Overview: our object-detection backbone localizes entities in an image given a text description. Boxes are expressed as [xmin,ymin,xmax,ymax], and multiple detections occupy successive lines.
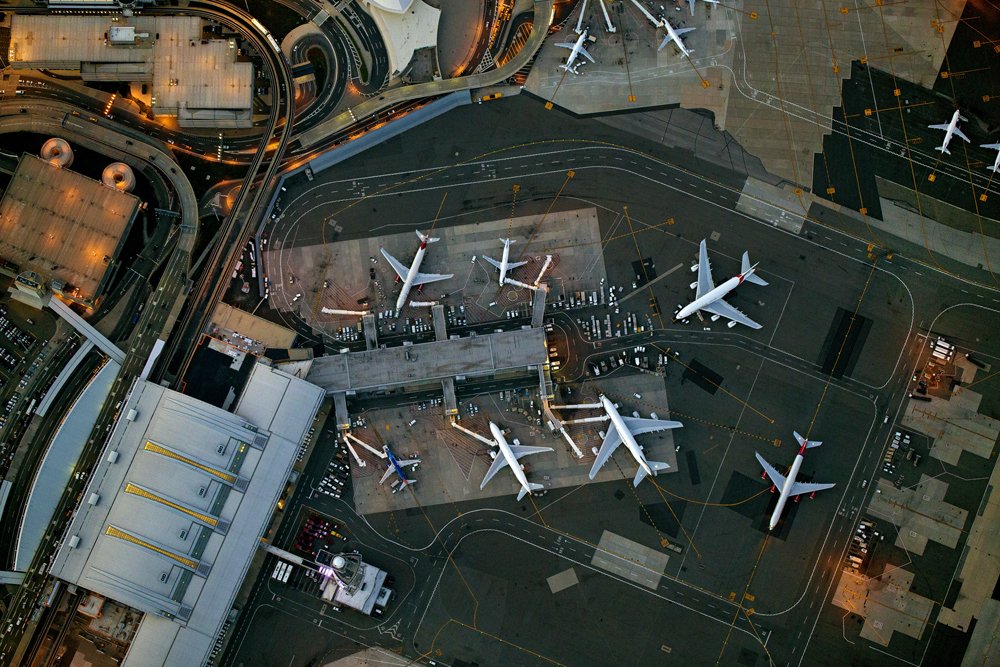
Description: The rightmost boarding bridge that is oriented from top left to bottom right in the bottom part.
[558,425,584,459]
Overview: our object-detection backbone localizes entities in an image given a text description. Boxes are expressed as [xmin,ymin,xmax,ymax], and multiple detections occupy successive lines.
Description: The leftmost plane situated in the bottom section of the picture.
[377,448,421,489]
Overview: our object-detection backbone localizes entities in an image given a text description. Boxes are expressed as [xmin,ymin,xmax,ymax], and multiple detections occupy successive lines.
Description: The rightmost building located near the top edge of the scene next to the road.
[370,0,441,85]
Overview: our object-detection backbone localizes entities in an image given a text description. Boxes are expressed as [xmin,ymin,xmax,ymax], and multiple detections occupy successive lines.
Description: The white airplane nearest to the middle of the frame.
[481,237,528,286]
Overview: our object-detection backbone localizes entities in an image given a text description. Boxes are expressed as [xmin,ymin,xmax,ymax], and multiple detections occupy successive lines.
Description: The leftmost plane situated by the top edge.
[555,30,595,71]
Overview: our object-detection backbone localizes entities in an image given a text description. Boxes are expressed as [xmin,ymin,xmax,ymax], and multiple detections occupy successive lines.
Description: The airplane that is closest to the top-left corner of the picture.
[380,232,454,310]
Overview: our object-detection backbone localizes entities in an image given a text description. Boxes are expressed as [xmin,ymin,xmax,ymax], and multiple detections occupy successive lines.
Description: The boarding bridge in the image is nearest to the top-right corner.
[632,0,661,29]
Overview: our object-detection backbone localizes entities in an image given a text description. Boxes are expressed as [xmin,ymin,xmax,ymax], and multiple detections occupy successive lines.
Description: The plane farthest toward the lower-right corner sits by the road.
[754,435,839,529]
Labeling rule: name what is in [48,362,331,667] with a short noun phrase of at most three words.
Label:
building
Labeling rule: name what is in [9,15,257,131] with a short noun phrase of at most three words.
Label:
building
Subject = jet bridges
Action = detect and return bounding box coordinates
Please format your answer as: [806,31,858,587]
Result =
[321,308,369,317]
[503,277,539,291]
[345,431,387,461]
[550,401,603,410]
[632,0,661,29]
[451,421,494,447]
[574,0,588,34]
[342,435,367,468]
[558,425,584,459]
[560,414,611,425]
[408,301,438,311]
[534,254,552,287]
[600,0,614,33]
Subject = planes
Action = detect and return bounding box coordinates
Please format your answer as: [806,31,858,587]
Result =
[377,448,421,489]
[380,232,454,310]
[928,110,972,155]
[676,242,769,330]
[754,435,839,529]
[980,140,1000,173]
[555,30,595,71]
[659,18,697,59]
[480,422,554,500]
[586,395,682,486]
[481,237,528,286]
